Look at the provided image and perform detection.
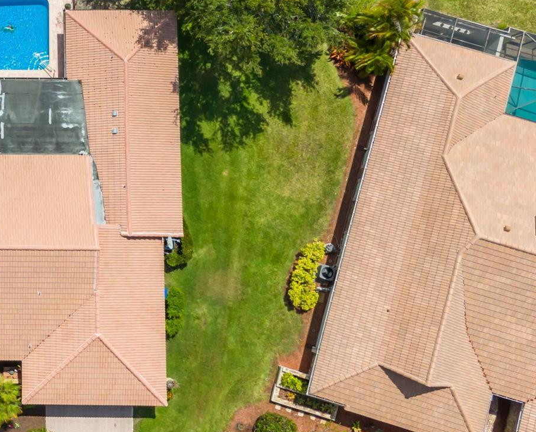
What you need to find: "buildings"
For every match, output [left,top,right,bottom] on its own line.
[307,34,536,432]
[0,7,184,408]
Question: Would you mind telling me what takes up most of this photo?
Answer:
buildings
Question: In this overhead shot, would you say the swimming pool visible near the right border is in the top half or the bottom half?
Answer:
top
